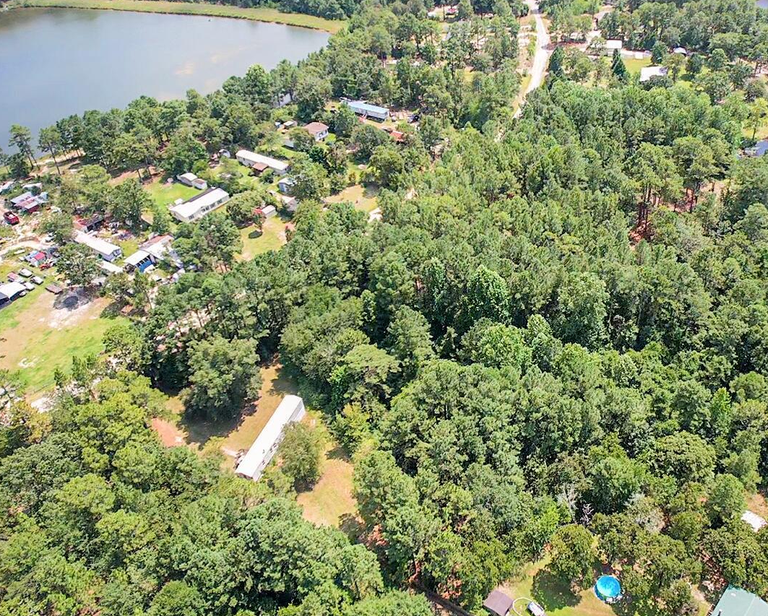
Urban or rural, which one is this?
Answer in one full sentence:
It looks rural.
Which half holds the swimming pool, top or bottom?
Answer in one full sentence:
The swimming pool is in the bottom half of the image.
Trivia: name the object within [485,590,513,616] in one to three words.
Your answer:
shed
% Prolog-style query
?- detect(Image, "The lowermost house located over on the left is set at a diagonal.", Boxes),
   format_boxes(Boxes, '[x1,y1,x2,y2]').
[232,395,303,483]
